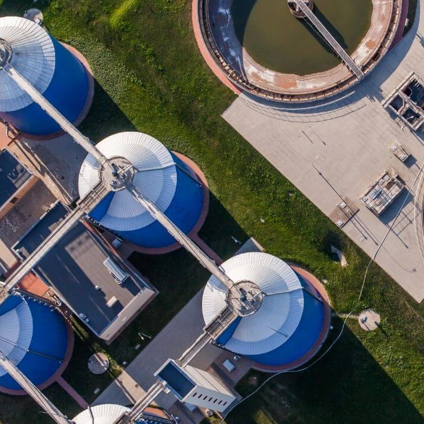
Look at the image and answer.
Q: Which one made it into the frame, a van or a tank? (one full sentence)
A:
Looking from above, you can make out a tank.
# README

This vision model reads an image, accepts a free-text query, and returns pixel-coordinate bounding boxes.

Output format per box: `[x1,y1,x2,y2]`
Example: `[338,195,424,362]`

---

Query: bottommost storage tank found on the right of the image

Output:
[198,250,330,371]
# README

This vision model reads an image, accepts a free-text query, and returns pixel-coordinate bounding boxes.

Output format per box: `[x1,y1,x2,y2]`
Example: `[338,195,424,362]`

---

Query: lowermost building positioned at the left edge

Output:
[12,201,156,342]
